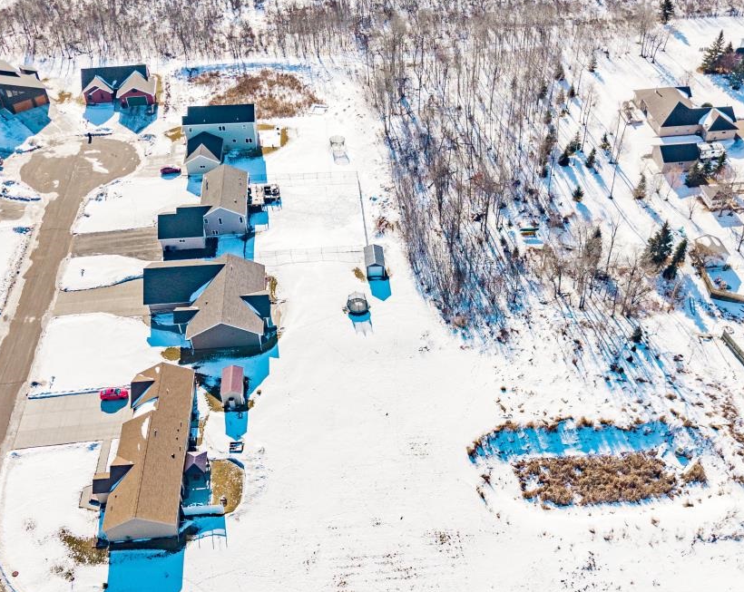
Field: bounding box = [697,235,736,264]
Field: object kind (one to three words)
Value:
building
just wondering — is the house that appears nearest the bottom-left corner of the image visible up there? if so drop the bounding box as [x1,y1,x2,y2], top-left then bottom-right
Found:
[93,363,196,542]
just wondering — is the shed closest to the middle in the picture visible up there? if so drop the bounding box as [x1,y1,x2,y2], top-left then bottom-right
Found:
[366,243,390,279]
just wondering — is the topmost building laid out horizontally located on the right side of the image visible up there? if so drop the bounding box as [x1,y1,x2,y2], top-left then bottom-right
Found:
[620,79,738,141]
